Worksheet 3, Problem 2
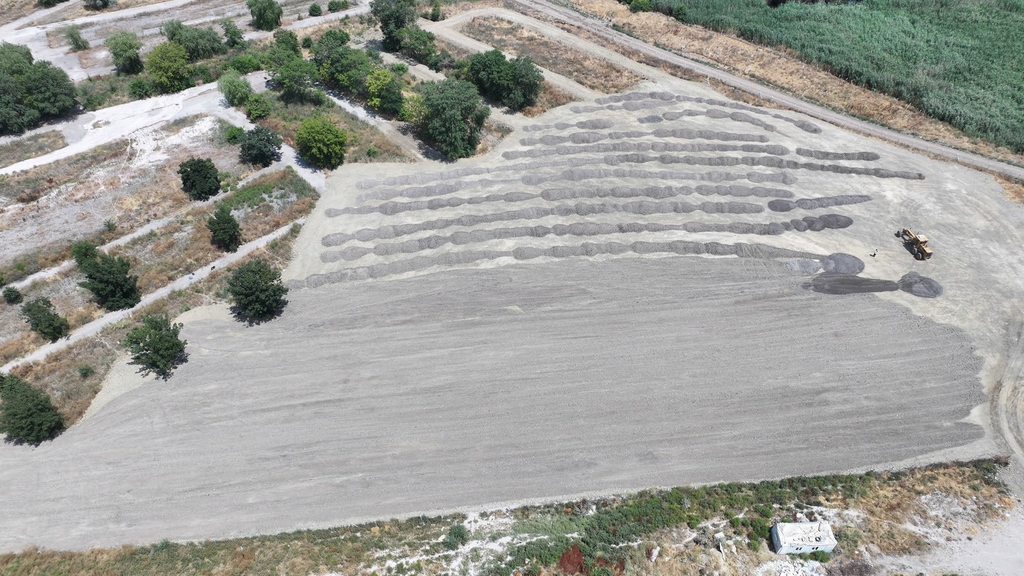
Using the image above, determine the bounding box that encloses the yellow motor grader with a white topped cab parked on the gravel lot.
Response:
[895,228,934,263]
